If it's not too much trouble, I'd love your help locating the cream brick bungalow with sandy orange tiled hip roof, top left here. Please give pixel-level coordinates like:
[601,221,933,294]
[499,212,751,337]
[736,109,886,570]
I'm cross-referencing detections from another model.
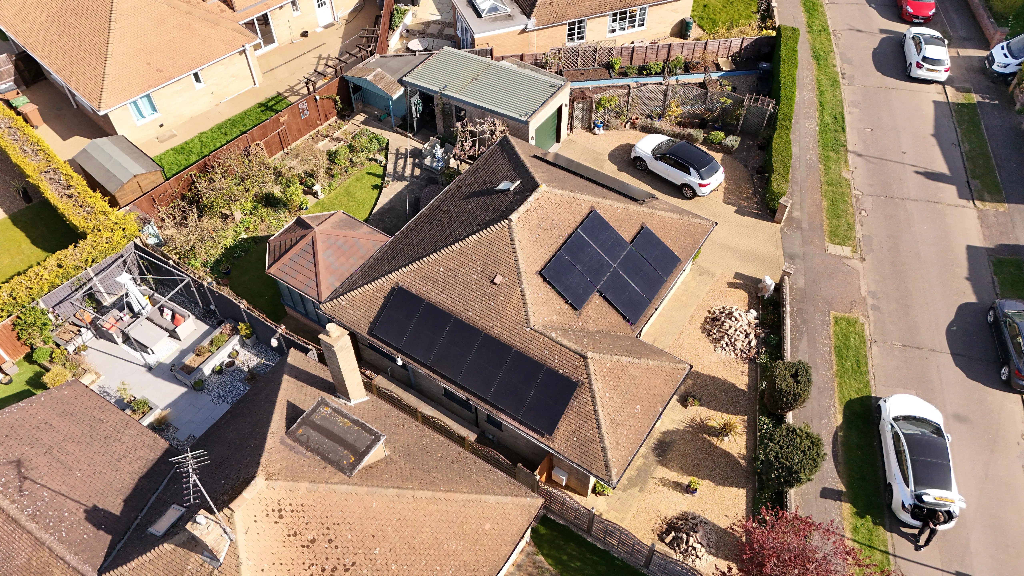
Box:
[0,0,339,146]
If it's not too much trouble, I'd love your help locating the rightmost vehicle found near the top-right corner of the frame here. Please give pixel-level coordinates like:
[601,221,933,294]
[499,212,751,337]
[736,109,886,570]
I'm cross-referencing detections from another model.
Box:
[986,37,1024,89]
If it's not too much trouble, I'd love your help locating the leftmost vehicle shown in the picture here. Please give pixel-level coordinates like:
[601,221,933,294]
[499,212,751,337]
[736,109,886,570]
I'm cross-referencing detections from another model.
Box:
[633,134,730,204]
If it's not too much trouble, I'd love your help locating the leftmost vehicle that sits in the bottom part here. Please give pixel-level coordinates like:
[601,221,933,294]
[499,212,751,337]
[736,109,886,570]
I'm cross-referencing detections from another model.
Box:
[874,397,966,537]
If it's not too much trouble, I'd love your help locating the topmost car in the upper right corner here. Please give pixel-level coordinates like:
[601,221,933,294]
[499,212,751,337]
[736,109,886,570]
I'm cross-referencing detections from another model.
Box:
[893,0,936,20]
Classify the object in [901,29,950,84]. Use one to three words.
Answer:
car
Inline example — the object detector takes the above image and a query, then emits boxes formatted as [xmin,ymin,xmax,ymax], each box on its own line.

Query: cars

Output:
[633,134,730,204]
[874,397,966,537]
[893,0,936,20]
[901,29,950,84]
[988,294,1024,399]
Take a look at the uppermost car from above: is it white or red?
red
